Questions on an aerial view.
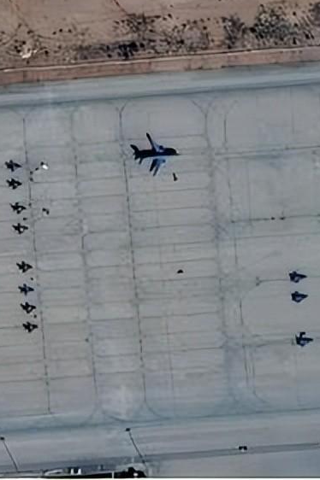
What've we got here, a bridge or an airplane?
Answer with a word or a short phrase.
airplane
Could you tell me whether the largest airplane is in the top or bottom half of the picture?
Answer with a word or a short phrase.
top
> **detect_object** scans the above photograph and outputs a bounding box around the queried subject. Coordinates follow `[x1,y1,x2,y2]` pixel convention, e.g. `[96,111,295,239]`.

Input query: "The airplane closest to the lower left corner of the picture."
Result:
[22,321,39,334]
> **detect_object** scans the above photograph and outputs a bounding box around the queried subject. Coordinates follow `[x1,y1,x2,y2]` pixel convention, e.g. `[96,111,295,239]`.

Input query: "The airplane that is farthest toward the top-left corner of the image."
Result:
[5,161,22,174]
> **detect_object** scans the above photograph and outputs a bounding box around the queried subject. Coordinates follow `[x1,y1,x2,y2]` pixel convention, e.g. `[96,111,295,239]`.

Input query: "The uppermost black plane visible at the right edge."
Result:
[288,271,307,285]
